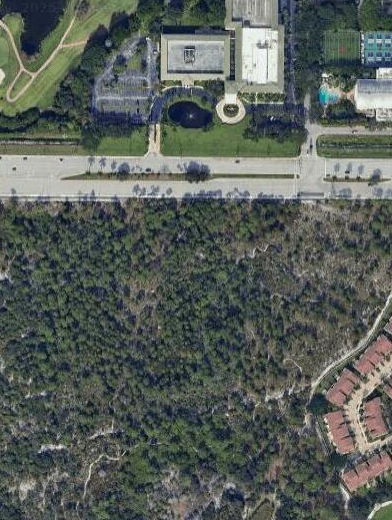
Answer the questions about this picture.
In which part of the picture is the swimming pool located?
top right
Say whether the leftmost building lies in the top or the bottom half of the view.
top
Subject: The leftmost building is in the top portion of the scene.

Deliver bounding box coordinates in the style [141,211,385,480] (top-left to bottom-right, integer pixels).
[160,34,230,80]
